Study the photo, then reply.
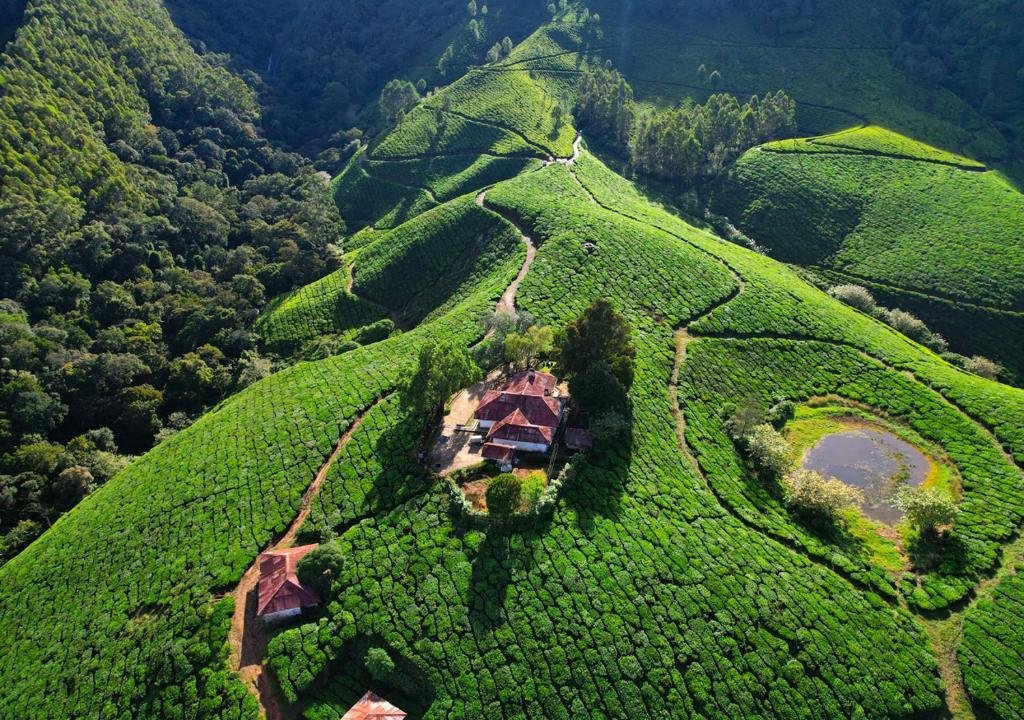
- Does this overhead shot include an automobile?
No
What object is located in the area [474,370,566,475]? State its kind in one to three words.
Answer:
house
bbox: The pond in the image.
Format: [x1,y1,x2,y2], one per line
[808,427,928,516]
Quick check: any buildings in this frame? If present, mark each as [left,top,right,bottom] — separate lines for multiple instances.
[560,426,590,456]
[474,370,566,475]
[349,691,409,720]
[259,544,321,623]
